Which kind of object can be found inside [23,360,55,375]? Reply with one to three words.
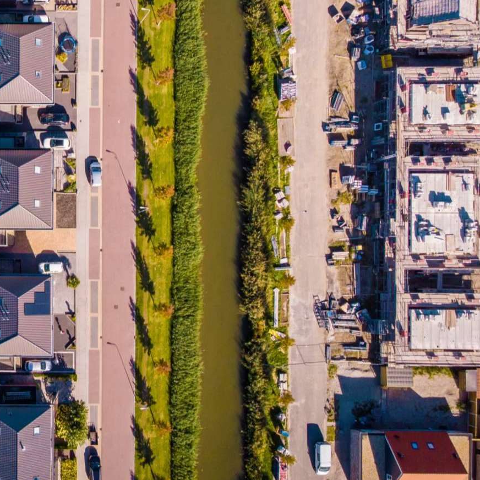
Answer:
car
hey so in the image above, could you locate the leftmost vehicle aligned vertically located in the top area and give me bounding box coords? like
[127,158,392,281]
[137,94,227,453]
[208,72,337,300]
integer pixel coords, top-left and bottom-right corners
[89,156,104,189]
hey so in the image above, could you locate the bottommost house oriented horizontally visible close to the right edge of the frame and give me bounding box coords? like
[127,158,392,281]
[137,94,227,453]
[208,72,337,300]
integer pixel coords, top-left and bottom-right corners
[349,426,476,480]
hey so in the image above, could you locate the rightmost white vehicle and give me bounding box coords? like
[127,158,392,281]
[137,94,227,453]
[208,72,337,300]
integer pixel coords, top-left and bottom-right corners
[316,443,337,479]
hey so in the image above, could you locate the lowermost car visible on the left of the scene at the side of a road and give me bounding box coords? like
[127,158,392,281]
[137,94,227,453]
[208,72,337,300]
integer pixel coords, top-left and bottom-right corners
[88,454,103,480]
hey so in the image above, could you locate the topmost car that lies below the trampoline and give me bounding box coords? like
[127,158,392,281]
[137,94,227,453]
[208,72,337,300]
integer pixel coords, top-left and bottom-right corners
[39,111,71,127]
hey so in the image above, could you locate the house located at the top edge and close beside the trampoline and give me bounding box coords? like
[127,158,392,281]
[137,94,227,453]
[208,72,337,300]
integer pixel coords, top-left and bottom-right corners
[0,22,55,109]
